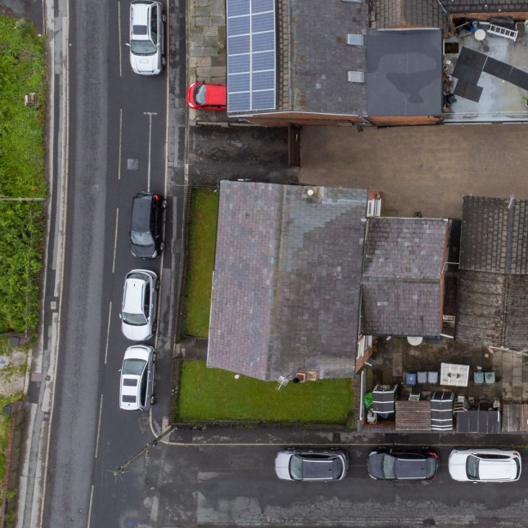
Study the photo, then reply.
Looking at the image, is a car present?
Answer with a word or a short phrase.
Yes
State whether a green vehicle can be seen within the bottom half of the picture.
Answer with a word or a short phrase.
No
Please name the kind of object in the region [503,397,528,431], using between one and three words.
shed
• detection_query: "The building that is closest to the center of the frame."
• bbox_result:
[206,180,377,384]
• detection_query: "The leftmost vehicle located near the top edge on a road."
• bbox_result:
[129,0,169,75]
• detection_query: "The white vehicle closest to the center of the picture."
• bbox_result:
[121,270,159,340]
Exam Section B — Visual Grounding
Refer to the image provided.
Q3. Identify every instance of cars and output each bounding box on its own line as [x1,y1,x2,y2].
[187,79,225,111]
[130,192,167,257]
[277,446,348,483]
[129,0,169,75]
[369,445,437,481]
[451,447,521,482]
[120,344,157,409]
[121,270,159,340]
